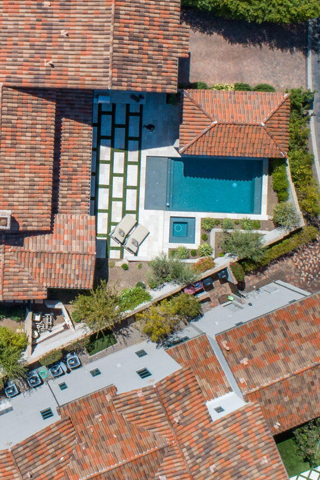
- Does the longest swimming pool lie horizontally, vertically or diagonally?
horizontally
